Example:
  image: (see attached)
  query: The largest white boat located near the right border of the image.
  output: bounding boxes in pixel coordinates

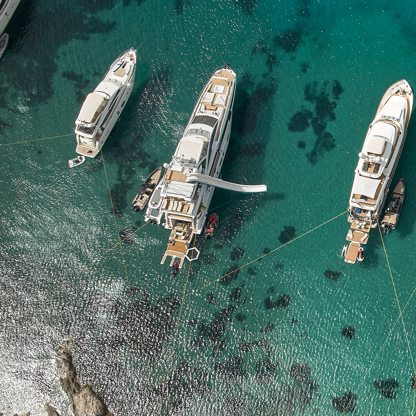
[347,79,412,233]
